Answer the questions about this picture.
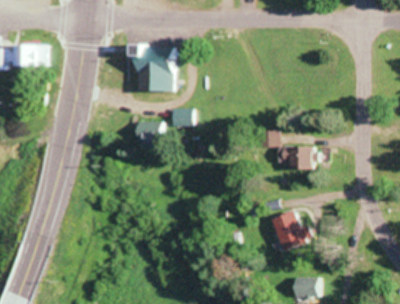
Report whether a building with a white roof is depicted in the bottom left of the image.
No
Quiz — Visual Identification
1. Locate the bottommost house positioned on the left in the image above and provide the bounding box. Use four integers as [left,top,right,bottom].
[135,122,166,140]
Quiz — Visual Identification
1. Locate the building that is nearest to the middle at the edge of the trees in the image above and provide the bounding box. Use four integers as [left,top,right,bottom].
[170,109,198,128]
